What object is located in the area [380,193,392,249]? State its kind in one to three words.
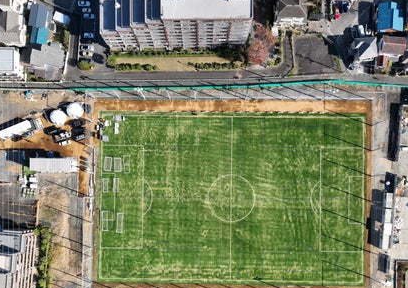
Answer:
shed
